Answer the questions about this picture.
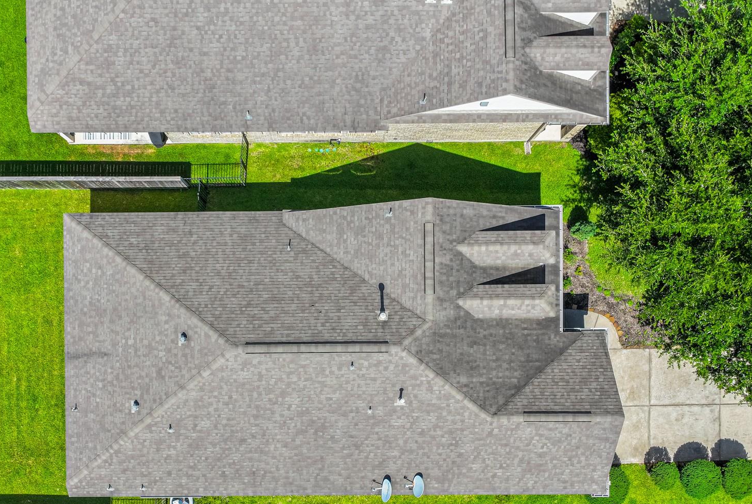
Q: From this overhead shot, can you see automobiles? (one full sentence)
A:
No, the photo shows no automobile.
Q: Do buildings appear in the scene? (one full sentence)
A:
Yes, the picture does show a building.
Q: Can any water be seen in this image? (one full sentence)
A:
No, the picture contains no water.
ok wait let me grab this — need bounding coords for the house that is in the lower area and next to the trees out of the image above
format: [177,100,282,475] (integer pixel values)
[63,197,626,498]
